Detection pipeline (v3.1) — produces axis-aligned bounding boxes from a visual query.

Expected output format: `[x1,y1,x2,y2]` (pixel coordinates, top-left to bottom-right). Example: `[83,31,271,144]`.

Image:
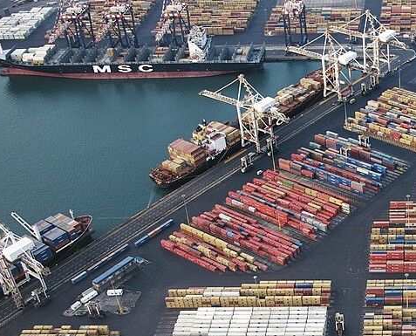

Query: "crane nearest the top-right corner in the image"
[325,9,416,84]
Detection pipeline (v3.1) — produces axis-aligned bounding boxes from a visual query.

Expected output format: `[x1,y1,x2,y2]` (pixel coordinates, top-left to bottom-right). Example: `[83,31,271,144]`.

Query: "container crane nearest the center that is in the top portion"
[189,77,296,164]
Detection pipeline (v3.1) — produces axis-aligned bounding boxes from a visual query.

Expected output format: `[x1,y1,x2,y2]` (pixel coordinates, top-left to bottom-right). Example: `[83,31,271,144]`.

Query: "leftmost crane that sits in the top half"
[32,0,91,49]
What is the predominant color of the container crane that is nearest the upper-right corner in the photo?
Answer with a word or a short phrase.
white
